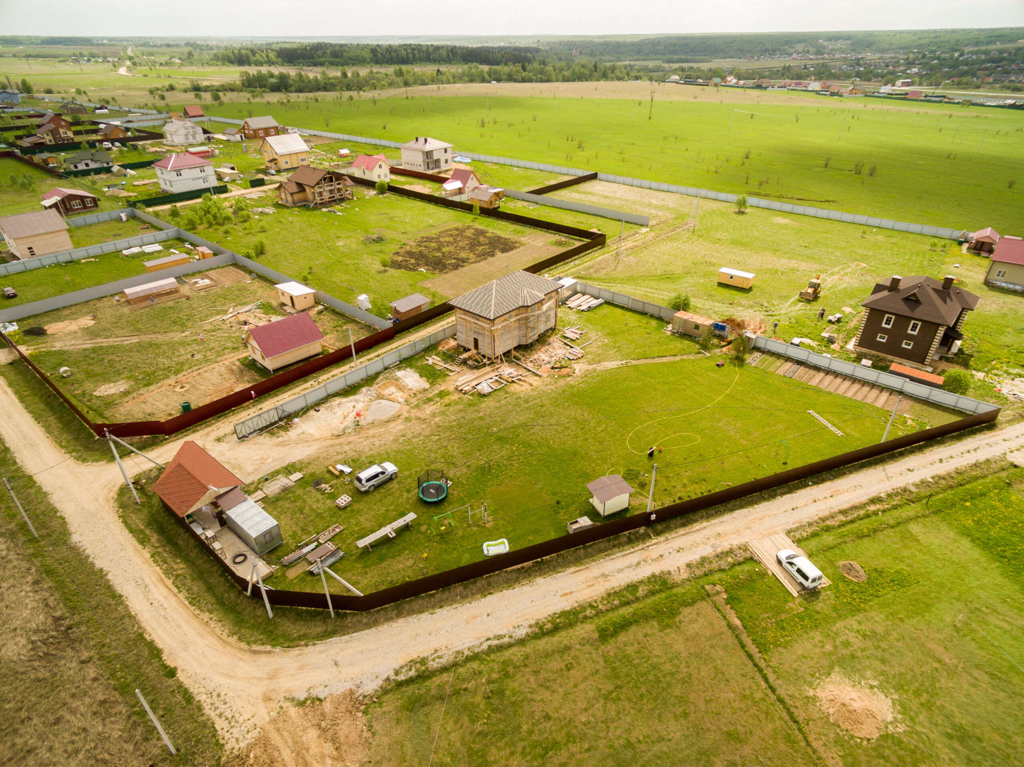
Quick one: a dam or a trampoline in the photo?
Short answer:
trampoline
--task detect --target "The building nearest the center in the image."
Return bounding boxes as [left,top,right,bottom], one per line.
[450,269,575,366]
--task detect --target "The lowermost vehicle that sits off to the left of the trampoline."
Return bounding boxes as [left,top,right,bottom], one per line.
[353,461,400,493]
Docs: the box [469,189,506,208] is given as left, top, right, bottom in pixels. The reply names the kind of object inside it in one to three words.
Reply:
building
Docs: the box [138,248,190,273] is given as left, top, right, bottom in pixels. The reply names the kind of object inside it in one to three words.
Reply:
shed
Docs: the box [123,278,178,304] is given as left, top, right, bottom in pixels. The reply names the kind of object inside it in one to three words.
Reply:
greenhouse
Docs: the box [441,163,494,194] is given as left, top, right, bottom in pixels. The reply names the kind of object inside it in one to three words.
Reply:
house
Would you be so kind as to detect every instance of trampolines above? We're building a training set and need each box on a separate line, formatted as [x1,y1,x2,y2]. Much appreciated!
[418,470,448,507]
